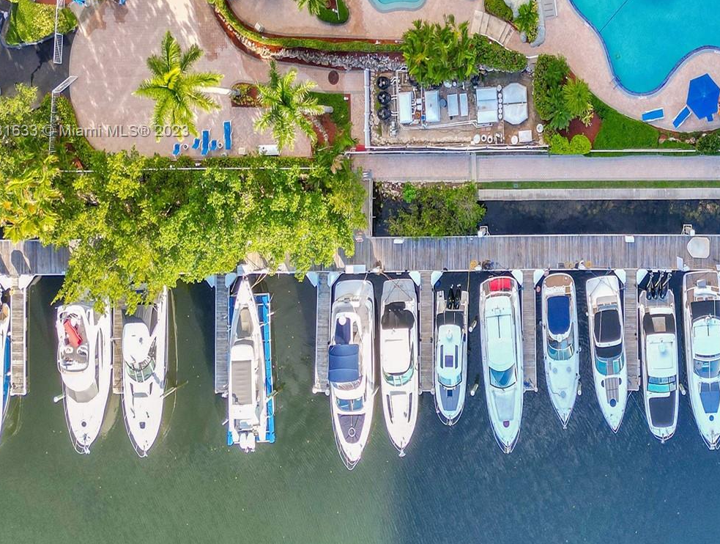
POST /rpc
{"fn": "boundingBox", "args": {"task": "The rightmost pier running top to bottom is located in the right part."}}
[623,276,640,393]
